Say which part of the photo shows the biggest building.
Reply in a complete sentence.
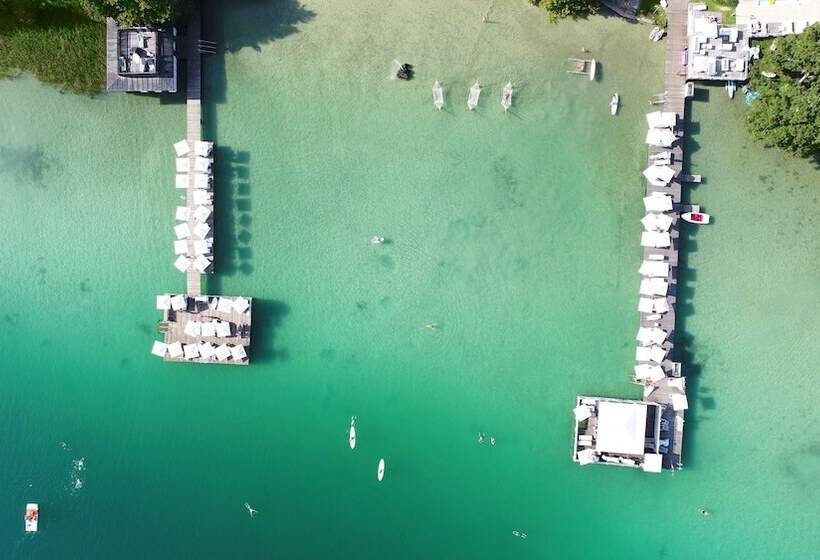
Look in the top left portion of the view to spot the biggest building.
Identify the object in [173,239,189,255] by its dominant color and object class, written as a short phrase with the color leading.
white umbrella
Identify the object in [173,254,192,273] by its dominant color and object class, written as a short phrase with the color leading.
white umbrella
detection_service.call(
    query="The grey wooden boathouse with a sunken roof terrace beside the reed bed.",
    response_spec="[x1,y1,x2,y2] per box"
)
[107,16,187,101]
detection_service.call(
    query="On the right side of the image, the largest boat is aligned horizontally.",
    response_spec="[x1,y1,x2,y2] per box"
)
[681,212,712,224]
